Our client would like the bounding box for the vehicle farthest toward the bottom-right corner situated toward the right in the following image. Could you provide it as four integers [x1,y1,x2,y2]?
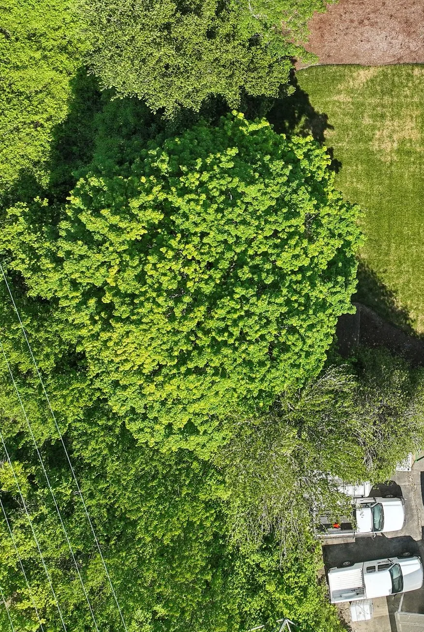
[327,554,422,601]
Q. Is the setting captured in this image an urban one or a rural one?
rural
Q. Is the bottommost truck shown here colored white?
Yes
